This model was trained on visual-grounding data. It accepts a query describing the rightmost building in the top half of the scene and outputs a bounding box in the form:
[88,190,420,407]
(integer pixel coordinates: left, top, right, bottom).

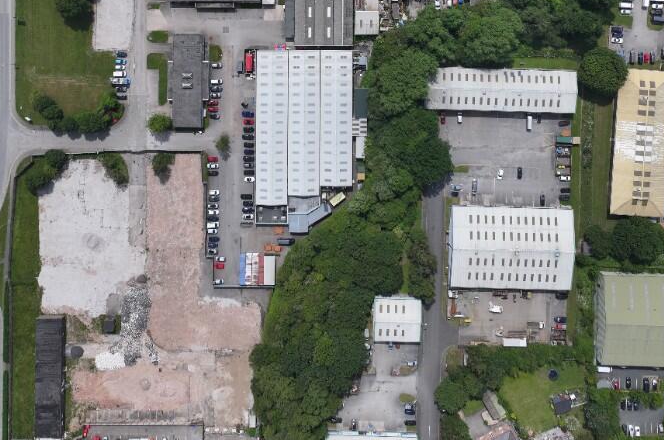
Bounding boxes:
[605,70,664,217]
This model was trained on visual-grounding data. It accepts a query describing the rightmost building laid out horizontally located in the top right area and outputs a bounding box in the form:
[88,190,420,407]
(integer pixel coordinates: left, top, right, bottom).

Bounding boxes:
[426,67,578,113]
